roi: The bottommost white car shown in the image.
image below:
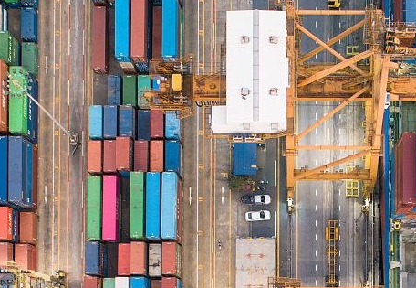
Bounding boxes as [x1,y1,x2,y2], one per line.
[246,209,270,221]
